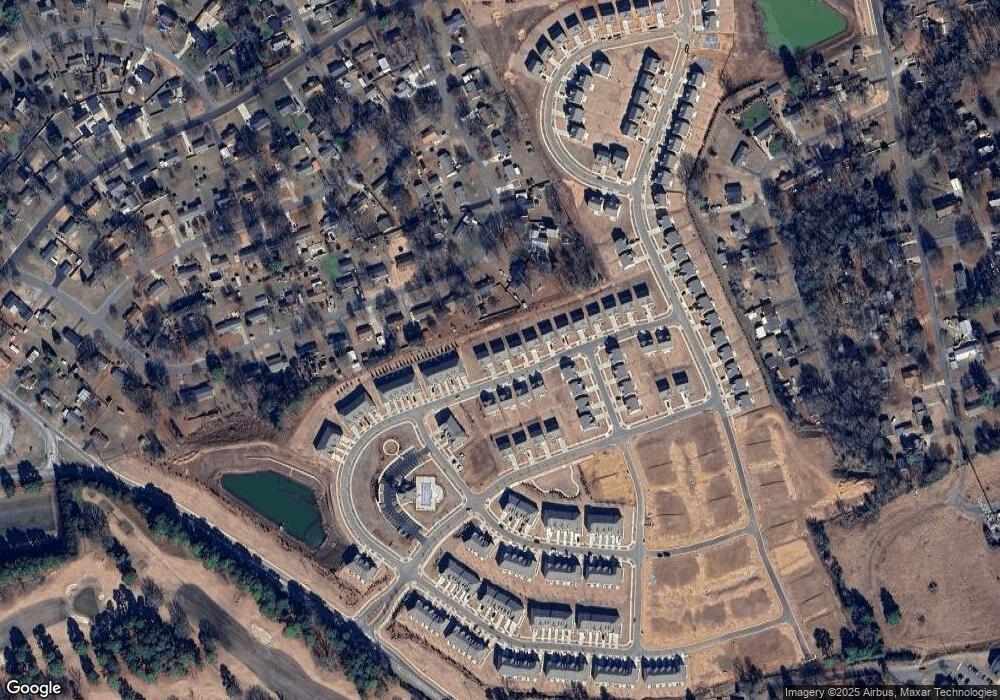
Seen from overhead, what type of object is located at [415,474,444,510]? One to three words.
swimming pool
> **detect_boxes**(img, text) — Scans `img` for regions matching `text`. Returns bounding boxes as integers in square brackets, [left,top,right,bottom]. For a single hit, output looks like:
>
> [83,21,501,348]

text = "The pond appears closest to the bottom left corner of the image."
[218,469,327,551]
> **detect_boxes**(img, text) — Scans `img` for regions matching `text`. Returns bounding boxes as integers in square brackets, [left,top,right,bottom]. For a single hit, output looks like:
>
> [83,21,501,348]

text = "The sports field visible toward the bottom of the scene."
[0,494,56,540]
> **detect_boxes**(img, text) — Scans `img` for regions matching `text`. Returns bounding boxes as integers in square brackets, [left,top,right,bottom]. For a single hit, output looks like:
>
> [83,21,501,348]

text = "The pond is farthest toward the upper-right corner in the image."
[754,0,849,55]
